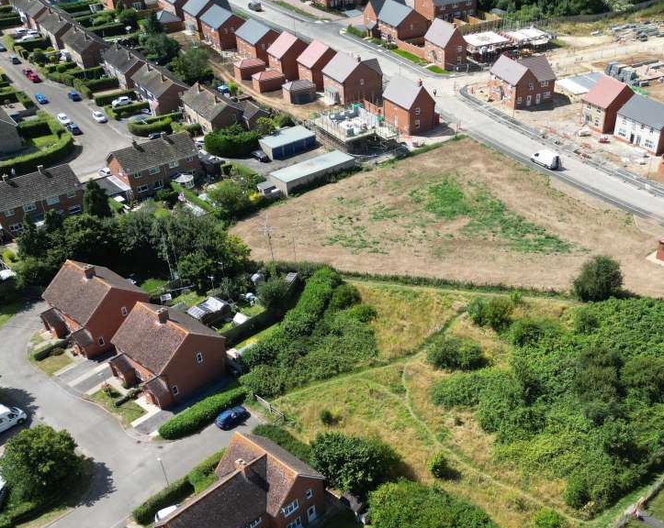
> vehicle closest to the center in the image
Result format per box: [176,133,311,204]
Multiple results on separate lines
[250,146,270,161]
